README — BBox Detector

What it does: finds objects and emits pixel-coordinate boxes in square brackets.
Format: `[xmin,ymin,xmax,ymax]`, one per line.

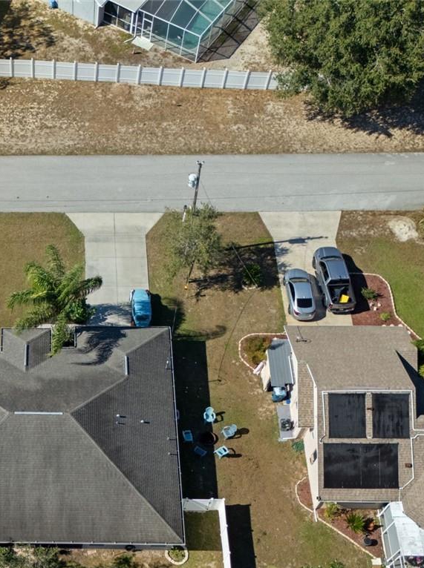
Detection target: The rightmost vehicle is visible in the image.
[313,254,354,316]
